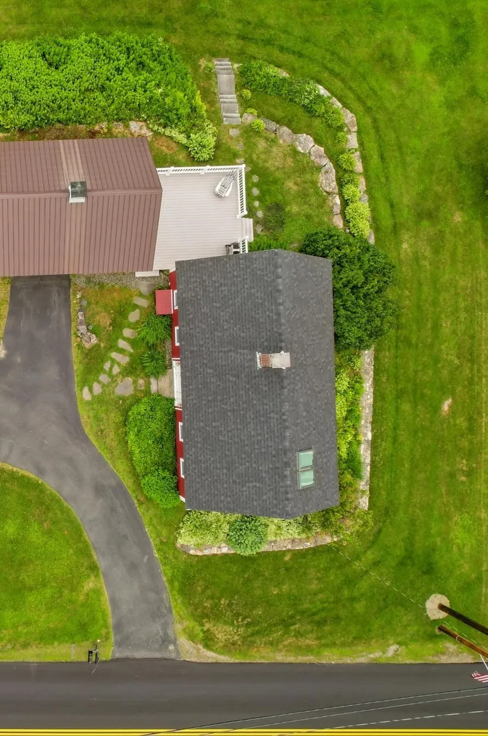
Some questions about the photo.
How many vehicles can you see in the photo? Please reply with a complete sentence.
The count of vehicles is 0.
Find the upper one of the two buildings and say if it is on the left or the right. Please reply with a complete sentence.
The upper one of the two buildings appears in the left half of the scene.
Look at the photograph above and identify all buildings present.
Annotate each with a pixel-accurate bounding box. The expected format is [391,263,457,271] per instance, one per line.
[168,249,339,519]
[0,135,166,276]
